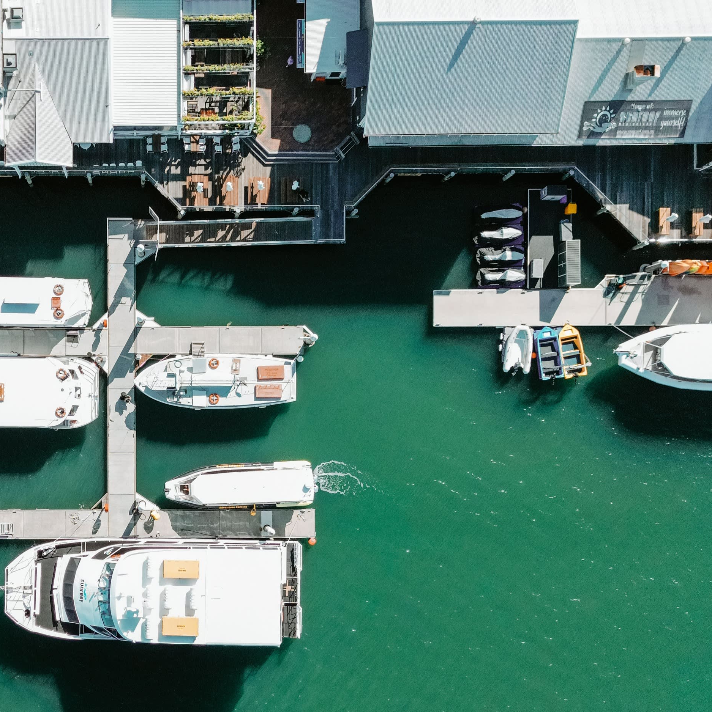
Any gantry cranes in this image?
No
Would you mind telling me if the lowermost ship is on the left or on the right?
left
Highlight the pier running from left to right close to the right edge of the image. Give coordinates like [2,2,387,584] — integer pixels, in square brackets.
[432,275,712,327]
